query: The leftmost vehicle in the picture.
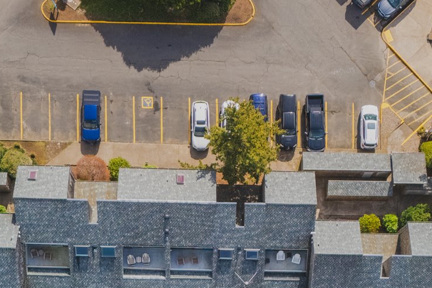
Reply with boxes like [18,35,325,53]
[78,89,103,146]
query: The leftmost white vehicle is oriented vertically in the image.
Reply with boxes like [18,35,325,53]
[188,102,211,153]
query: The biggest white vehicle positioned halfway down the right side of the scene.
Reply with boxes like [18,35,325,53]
[358,104,382,152]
